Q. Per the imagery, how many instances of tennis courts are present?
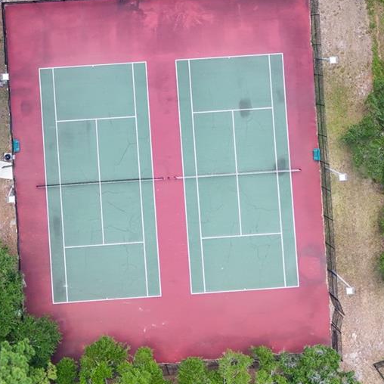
two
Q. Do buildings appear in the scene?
No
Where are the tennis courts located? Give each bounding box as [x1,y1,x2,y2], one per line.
[176,53,299,294]
[39,61,161,304]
